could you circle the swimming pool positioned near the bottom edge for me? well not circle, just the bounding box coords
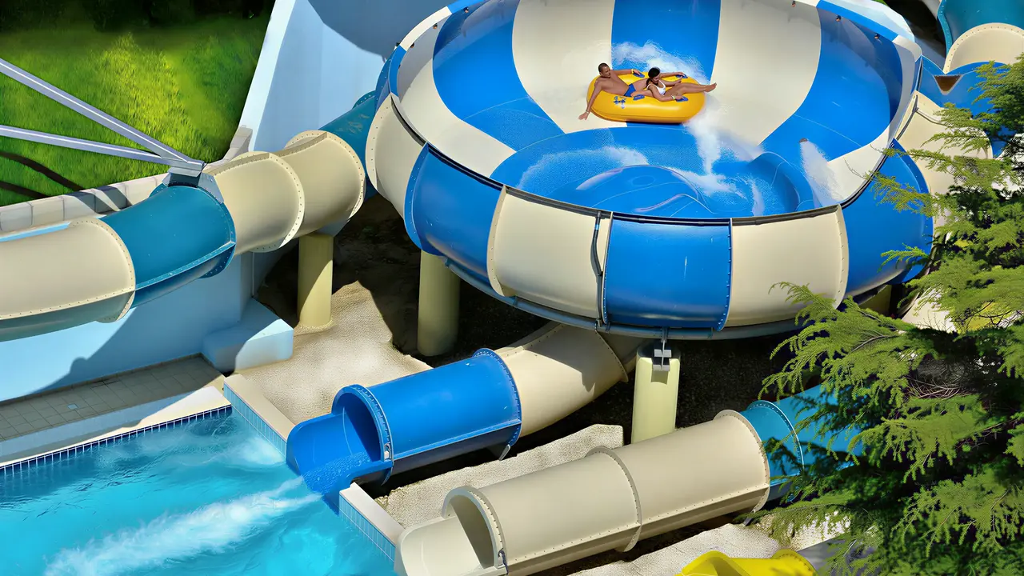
[0,415,397,576]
